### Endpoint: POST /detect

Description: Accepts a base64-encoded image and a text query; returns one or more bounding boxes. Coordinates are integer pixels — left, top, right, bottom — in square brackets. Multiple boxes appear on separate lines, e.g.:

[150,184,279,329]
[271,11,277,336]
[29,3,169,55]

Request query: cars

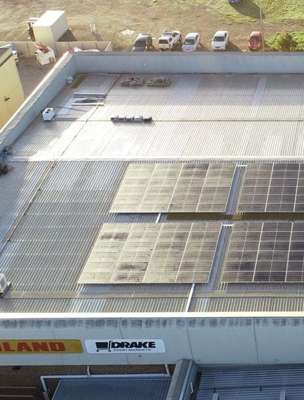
[180,32,202,50]
[248,31,265,49]
[133,33,156,51]
[153,30,179,50]
[210,32,231,49]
